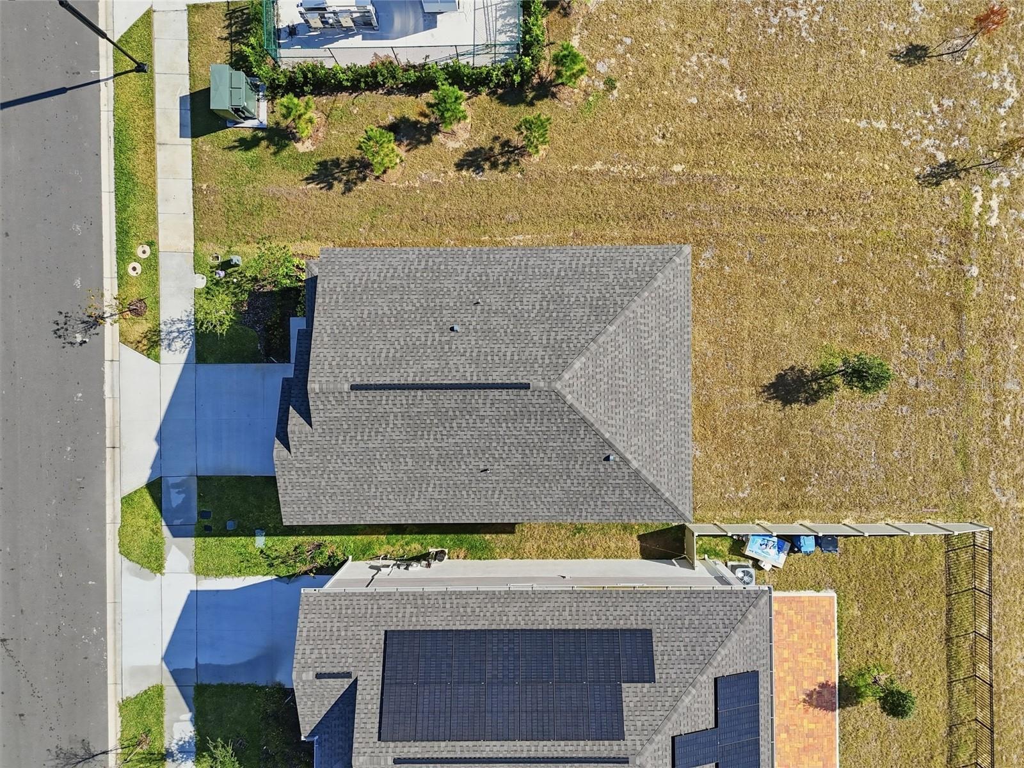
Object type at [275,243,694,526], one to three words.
house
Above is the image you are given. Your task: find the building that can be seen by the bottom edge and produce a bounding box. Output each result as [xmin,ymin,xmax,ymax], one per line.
[296,550,775,768]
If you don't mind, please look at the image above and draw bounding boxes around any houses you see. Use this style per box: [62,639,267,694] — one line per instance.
[296,550,775,768]
[275,243,694,526]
